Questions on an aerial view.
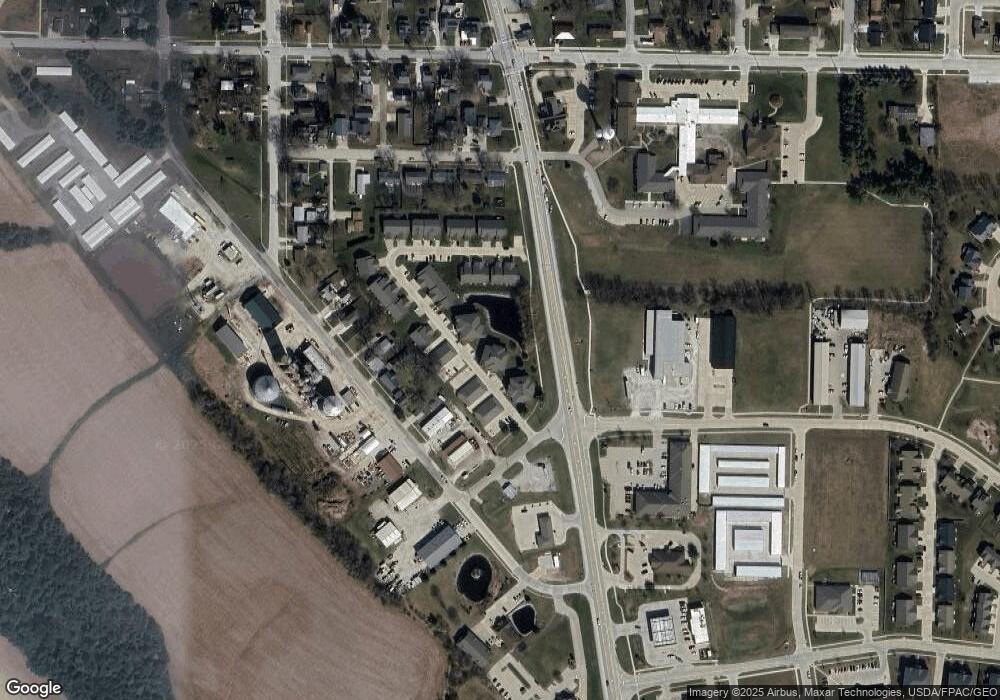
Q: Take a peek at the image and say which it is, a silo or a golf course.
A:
silo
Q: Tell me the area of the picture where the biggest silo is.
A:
left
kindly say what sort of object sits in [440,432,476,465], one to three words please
building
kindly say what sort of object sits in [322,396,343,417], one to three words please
silo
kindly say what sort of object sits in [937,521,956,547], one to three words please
house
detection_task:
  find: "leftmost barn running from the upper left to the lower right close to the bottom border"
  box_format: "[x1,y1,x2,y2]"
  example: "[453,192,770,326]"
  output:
[453,625,495,666]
